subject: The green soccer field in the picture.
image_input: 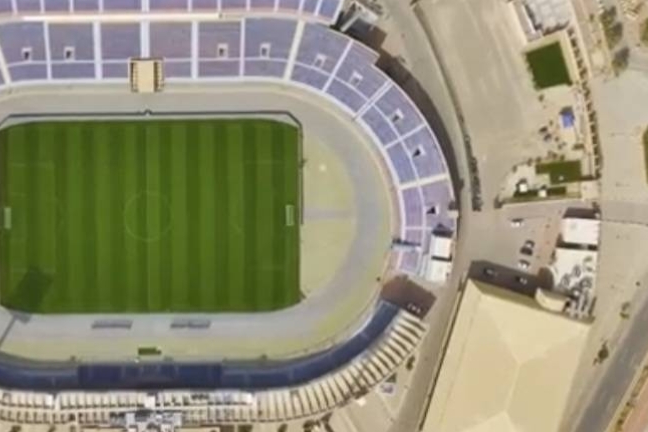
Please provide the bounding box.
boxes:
[0,112,301,312]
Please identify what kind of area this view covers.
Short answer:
sports ground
